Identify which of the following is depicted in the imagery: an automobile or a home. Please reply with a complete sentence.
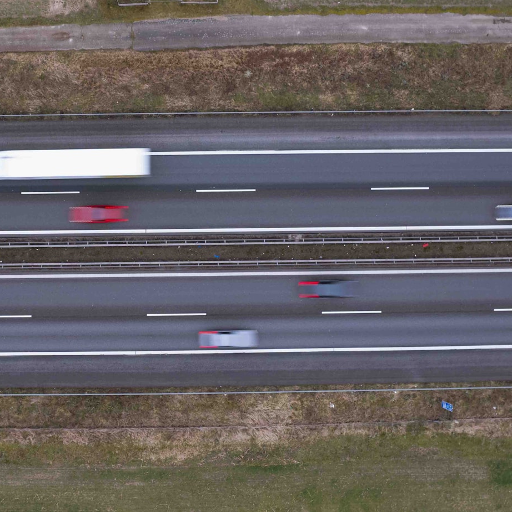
I can see an automobile in this picture.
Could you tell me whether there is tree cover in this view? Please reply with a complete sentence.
No, tree cover can't be seen anywhere here.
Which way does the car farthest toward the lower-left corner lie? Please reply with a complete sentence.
What the image shows is the car farthest toward the lower-left corner lying from side to side.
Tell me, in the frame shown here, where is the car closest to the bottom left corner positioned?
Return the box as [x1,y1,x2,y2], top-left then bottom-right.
[204,329,254,349]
